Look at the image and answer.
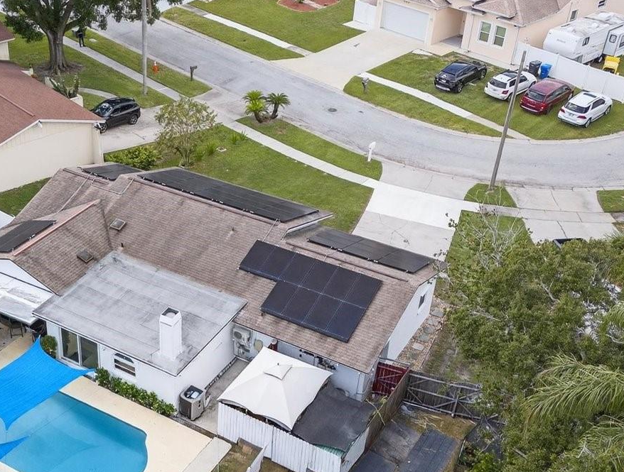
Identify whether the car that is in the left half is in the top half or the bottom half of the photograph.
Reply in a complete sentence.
The car that is in the left half sits in the top half of the picture.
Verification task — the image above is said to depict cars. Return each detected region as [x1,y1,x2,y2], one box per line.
[490,66,535,97]
[564,91,612,124]
[88,93,148,132]
[440,60,484,91]
[526,77,574,111]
